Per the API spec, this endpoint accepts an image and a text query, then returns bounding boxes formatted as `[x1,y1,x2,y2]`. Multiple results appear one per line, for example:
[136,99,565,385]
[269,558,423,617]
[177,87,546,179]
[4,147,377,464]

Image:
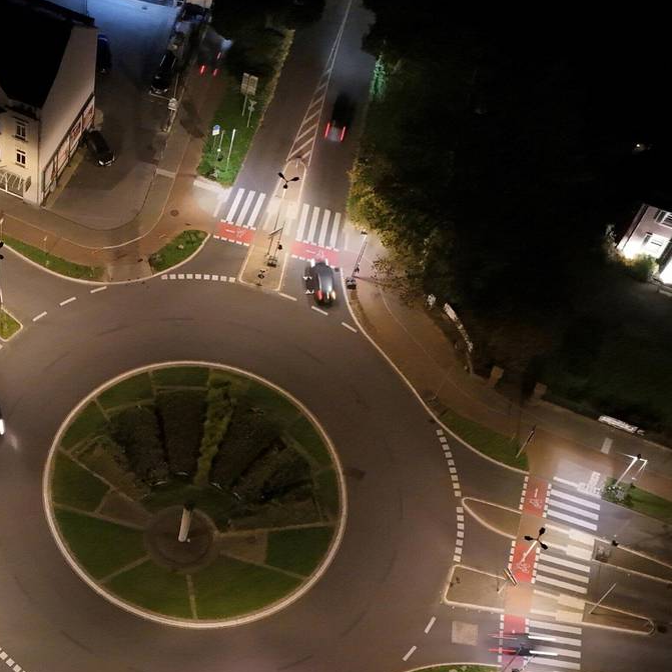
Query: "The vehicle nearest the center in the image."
[307,261,335,304]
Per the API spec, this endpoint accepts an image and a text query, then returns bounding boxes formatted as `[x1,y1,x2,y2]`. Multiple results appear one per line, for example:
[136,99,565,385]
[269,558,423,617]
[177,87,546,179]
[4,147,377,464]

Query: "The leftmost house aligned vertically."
[0,0,95,206]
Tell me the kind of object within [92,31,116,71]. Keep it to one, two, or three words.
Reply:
car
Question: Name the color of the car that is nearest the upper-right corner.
black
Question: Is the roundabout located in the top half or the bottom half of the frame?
bottom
